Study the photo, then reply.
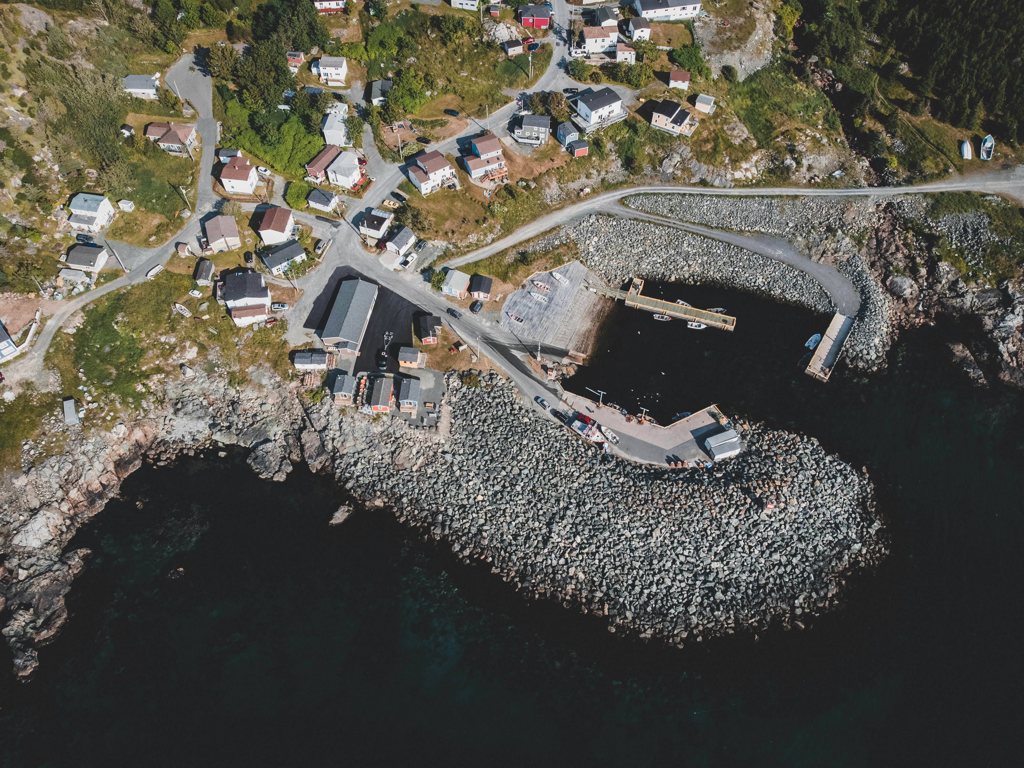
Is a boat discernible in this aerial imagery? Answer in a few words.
Yes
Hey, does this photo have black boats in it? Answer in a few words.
Yes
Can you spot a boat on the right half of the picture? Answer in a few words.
Yes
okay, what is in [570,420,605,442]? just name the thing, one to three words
boat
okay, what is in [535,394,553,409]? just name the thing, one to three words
car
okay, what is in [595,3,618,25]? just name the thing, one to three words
house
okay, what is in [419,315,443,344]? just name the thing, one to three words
shed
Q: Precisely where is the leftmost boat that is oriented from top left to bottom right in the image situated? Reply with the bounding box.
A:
[174,299,192,316]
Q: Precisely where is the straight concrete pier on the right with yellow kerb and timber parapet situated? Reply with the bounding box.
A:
[805,313,858,385]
